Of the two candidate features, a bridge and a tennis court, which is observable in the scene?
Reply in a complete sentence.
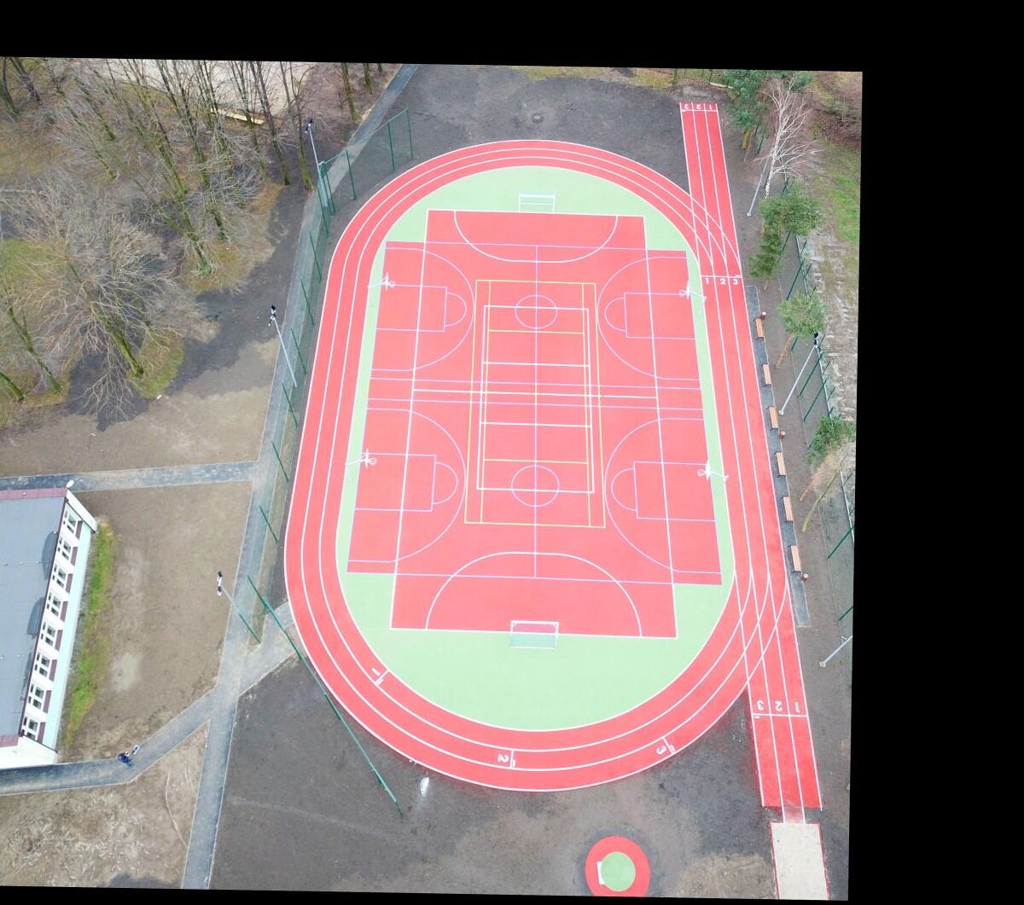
The one in the frame is a tennis court.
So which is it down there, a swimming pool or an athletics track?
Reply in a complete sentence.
Looking from above, you can make out an athletics track.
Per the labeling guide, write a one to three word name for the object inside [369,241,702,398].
basketball court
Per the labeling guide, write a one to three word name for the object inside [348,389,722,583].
basketball court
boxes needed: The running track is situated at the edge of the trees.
[287,101,822,823]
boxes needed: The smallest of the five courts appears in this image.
[477,305,594,493]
